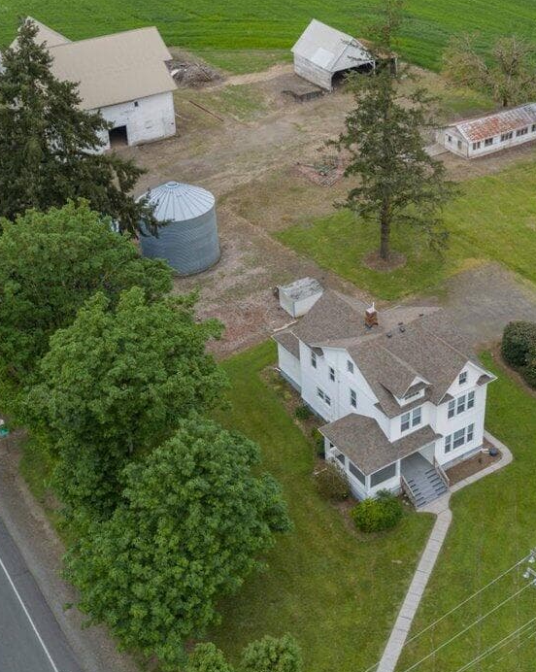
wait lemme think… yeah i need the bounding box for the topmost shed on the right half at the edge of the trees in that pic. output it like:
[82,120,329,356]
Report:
[291,22,402,90]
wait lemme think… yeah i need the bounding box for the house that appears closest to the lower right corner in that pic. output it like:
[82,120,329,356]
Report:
[270,289,495,509]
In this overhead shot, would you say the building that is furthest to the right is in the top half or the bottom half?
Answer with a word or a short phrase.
top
